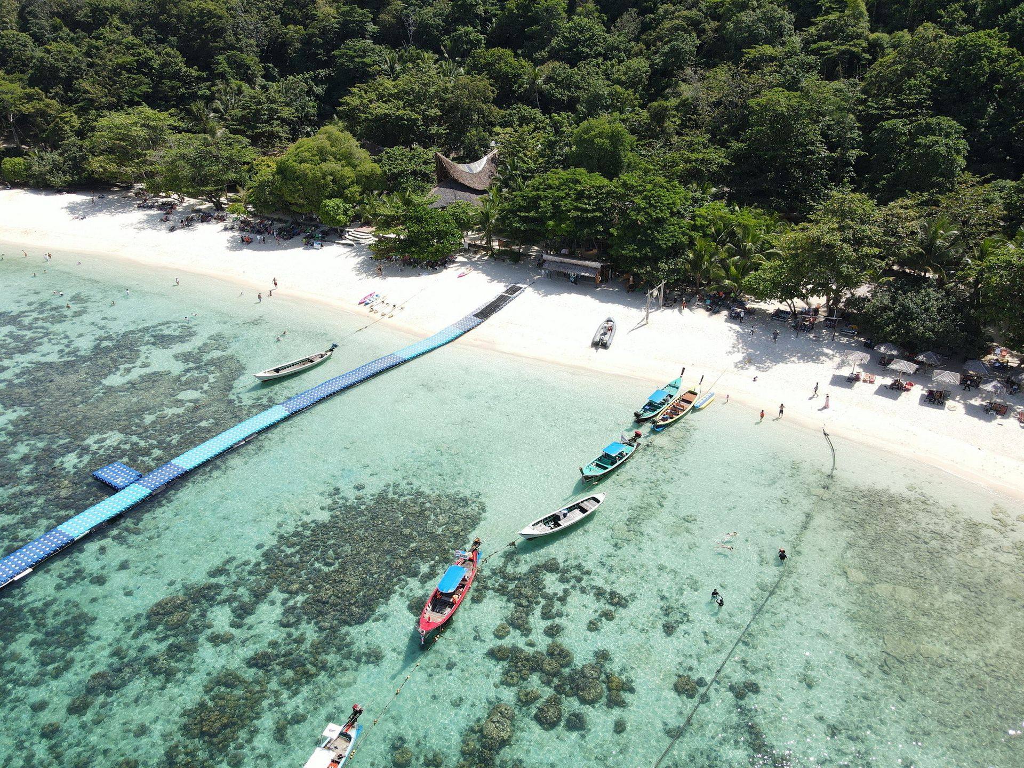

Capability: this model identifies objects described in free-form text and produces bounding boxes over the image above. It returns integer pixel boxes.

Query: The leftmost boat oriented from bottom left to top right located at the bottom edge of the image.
[301,684,378,768]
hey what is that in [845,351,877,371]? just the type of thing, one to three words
umbrella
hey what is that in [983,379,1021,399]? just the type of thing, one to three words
umbrella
